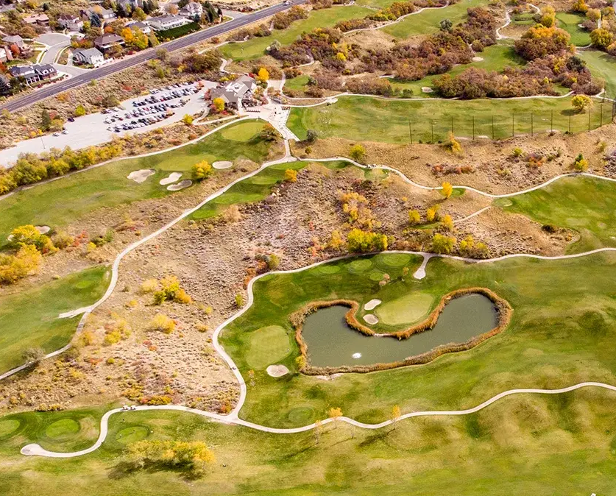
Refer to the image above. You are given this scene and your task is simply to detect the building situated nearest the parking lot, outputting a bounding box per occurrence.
[209,74,274,108]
